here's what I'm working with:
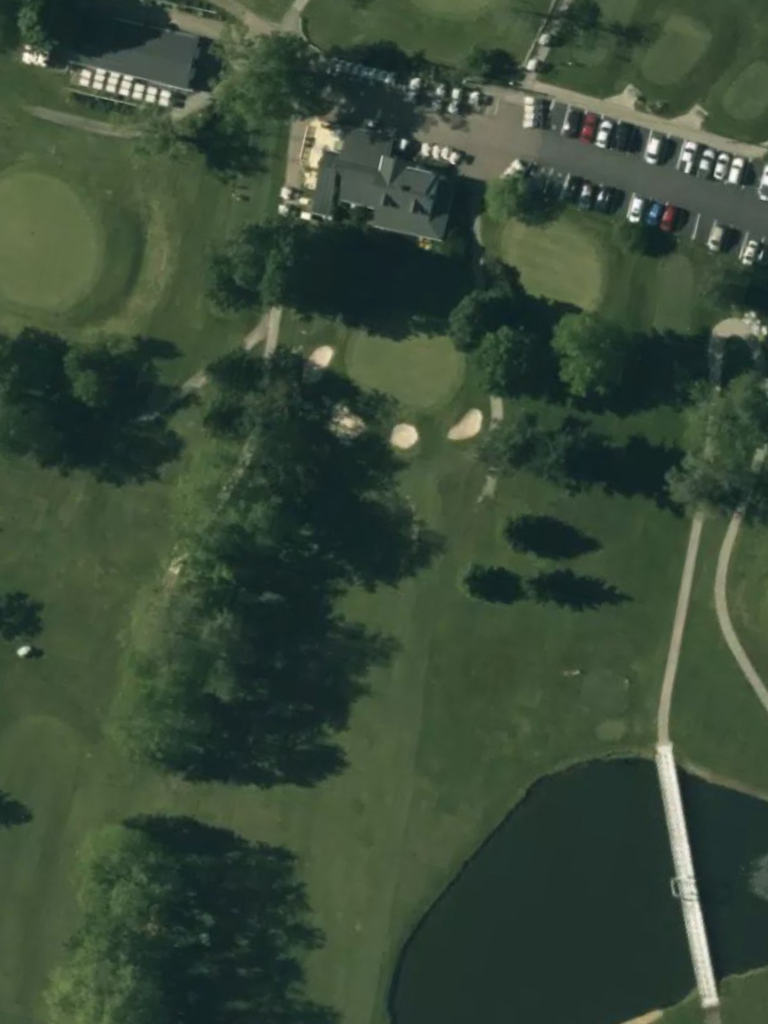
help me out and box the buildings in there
[312,128,455,242]
[70,9,199,92]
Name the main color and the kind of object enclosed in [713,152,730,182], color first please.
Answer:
white car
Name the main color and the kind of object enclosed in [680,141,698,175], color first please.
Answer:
white vehicle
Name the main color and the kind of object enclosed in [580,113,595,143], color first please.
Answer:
red car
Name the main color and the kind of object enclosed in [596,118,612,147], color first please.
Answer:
white car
